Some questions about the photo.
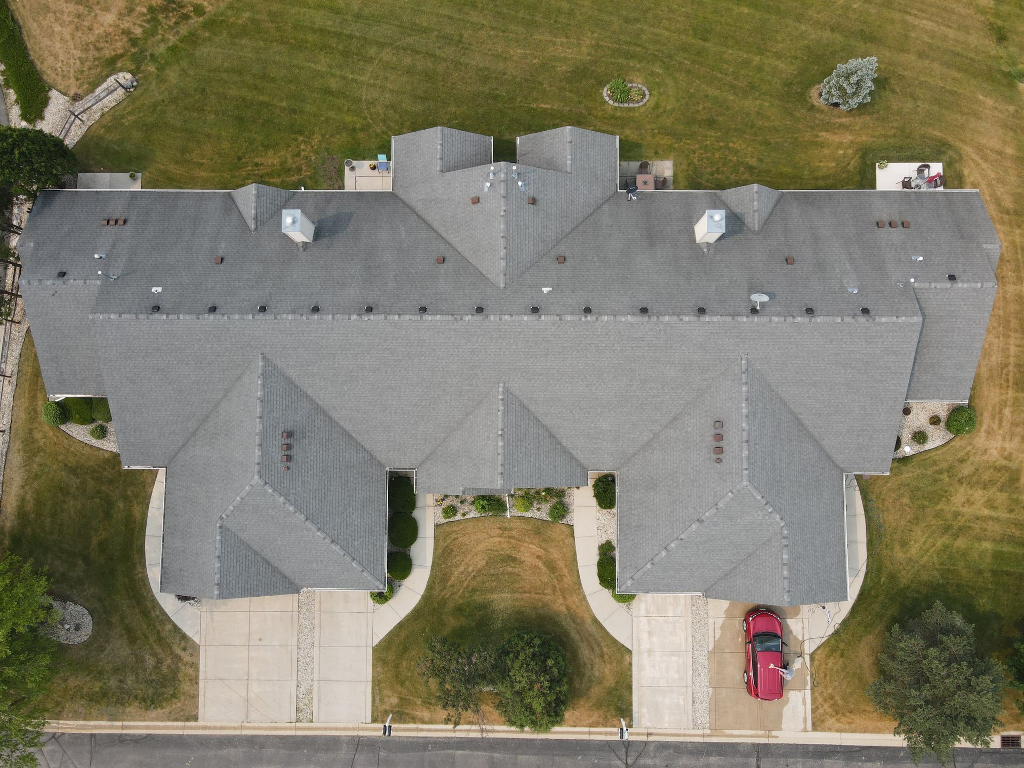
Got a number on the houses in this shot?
1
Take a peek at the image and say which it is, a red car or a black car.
red car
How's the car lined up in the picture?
from top to bottom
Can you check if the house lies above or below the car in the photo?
above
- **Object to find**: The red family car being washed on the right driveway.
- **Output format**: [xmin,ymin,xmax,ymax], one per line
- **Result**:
[742,606,789,703]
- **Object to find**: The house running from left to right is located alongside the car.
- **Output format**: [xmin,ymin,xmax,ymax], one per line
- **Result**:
[19,127,1001,606]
